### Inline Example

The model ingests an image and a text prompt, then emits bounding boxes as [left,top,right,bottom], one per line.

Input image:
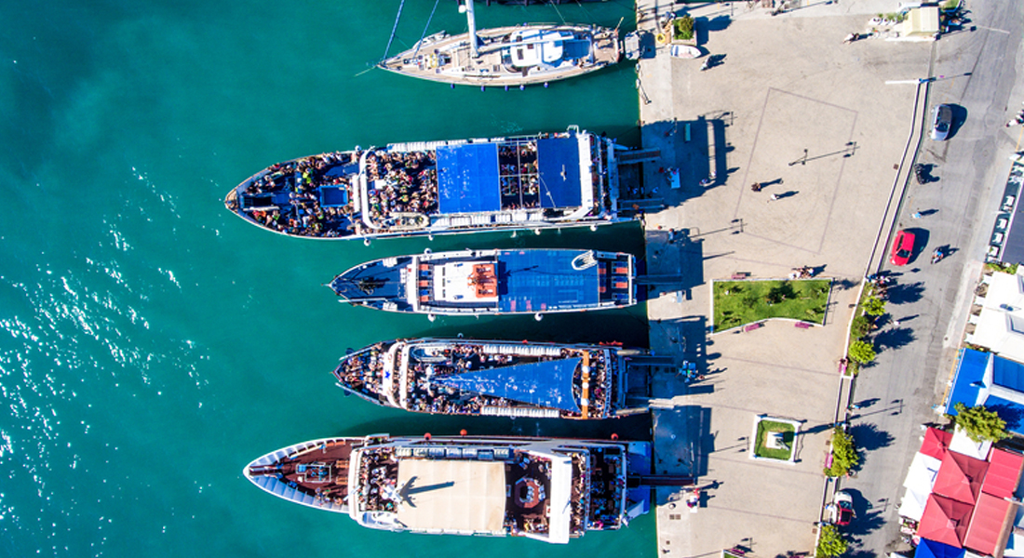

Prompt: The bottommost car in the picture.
[832,490,854,527]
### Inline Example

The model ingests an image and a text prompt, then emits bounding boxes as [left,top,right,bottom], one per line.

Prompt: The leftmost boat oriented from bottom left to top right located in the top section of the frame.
[416,28,448,50]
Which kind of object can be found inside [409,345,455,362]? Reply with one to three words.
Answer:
boat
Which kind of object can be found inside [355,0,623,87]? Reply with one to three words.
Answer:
boat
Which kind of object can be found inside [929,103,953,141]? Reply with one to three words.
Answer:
car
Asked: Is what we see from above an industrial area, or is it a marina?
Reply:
marina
